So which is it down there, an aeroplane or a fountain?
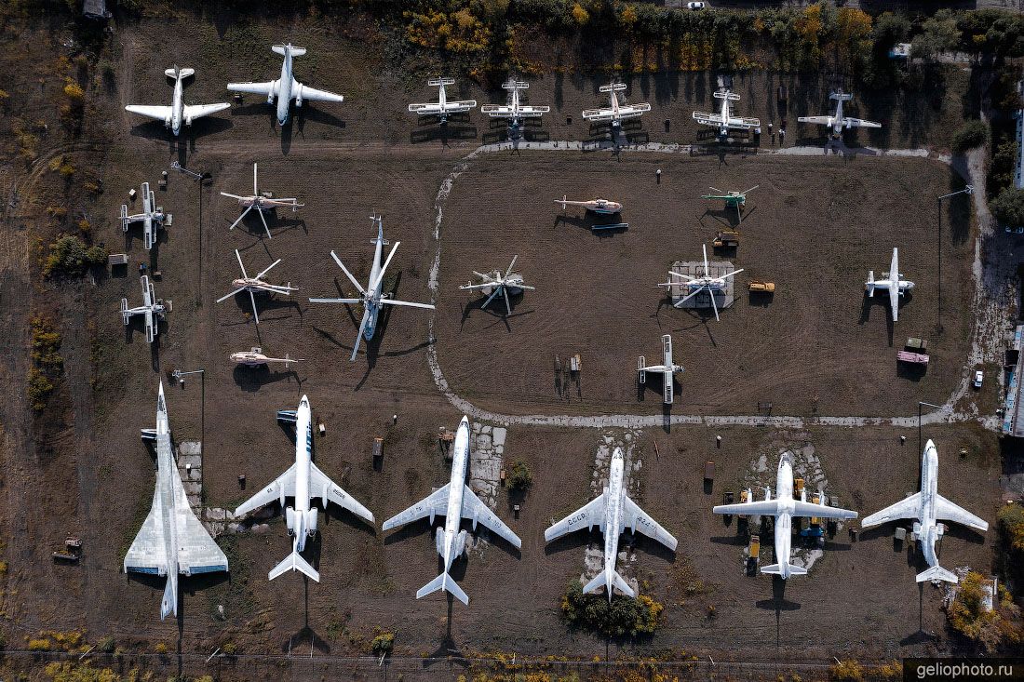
aeroplane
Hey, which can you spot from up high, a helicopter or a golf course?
helicopter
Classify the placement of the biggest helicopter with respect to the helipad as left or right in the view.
on the left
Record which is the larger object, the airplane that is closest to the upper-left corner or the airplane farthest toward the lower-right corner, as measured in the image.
the airplane farthest toward the lower-right corner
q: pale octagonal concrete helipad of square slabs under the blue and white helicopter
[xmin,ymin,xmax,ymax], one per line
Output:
[672,262,734,308]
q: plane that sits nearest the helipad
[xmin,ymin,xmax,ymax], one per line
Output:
[639,336,683,404]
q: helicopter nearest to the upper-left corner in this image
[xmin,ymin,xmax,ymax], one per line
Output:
[220,161,304,238]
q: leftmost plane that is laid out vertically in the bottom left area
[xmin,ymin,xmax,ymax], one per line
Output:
[123,376,229,624]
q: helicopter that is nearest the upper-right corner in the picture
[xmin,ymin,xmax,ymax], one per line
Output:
[700,187,761,225]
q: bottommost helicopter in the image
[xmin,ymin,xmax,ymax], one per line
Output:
[232,350,298,366]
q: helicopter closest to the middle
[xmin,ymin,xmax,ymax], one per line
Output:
[456,254,535,315]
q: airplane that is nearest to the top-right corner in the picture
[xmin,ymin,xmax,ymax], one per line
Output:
[797,89,882,137]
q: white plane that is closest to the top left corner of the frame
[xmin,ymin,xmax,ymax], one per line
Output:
[124,66,229,137]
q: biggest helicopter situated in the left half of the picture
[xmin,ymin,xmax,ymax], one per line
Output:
[306,208,436,362]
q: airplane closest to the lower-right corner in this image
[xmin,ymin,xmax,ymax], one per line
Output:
[862,439,990,584]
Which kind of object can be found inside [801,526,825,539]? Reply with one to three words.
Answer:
vehicle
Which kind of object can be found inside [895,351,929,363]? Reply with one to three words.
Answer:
vehicle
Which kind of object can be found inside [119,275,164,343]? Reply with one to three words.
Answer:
airplane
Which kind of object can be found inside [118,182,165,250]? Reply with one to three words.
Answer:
airplane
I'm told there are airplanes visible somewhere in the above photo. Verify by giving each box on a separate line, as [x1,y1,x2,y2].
[639,336,683,404]
[866,248,914,321]
[124,66,229,137]
[693,90,761,135]
[713,449,856,582]
[228,39,345,127]
[118,182,165,250]
[582,83,650,127]
[384,416,522,604]
[862,439,990,584]
[481,80,549,124]
[797,89,882,137]
[545,447,675,602]
[123,376,229,624]
[119,275,164,343]
[407,79,475,122]
[236,395,374,581]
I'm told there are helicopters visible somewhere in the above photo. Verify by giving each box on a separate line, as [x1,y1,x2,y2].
[232,350,298,366]
[700,187,761,225]
[456,254,535,315]
[220,161,304,238]
[217,248,299,323]
[306,208,436,362]
[552,196,622,214]
[656,244,745,322]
